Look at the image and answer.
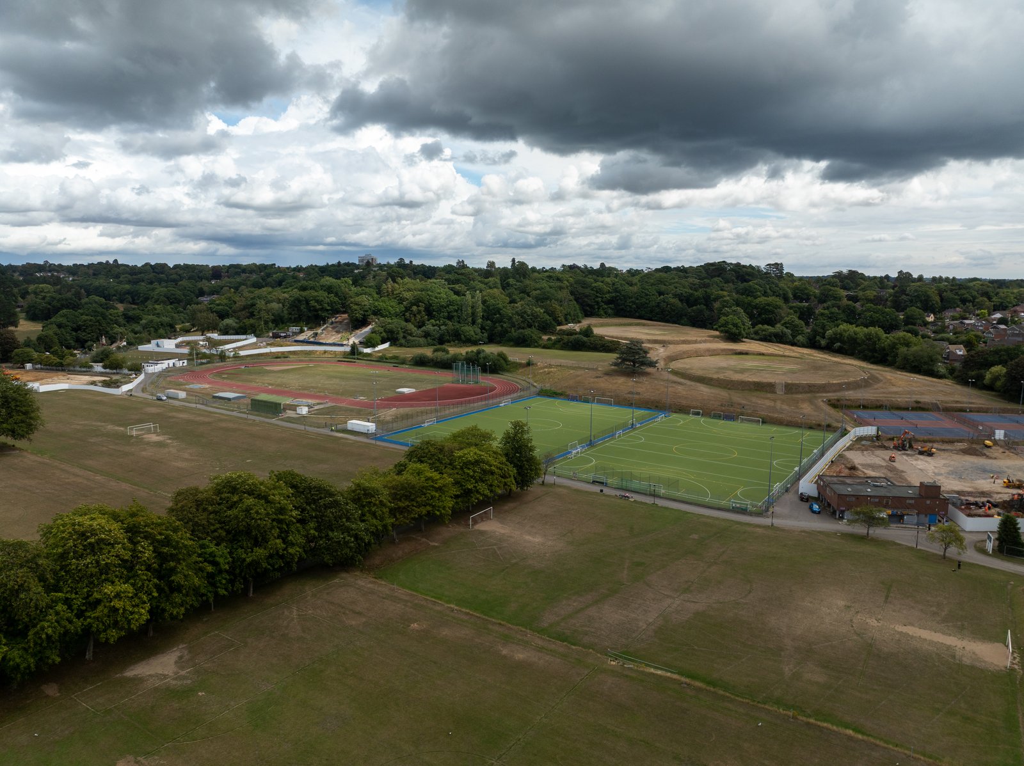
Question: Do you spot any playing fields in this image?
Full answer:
Yes, the picture does show a playing field.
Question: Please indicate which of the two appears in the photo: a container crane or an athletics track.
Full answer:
The one in the frame is an athletics track.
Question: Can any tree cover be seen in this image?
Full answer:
Yes, there's tree cover in this view.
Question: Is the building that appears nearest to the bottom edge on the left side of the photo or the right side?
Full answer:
You can find the building that appears nearest to the bottom edge on the right side of the picture.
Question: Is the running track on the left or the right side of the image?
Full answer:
You can find the running track on the left side of the picture.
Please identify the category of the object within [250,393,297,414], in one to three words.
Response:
building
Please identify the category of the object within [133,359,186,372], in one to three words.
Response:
building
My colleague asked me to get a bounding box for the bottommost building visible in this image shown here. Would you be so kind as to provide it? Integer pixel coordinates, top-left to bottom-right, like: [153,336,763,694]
[817,475,950,525]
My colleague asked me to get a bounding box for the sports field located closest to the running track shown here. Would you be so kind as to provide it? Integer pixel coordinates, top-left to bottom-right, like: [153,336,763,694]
[387,397,664,460]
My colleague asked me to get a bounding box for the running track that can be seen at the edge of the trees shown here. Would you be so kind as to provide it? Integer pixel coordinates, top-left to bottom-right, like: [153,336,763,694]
[170,360,518,408]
